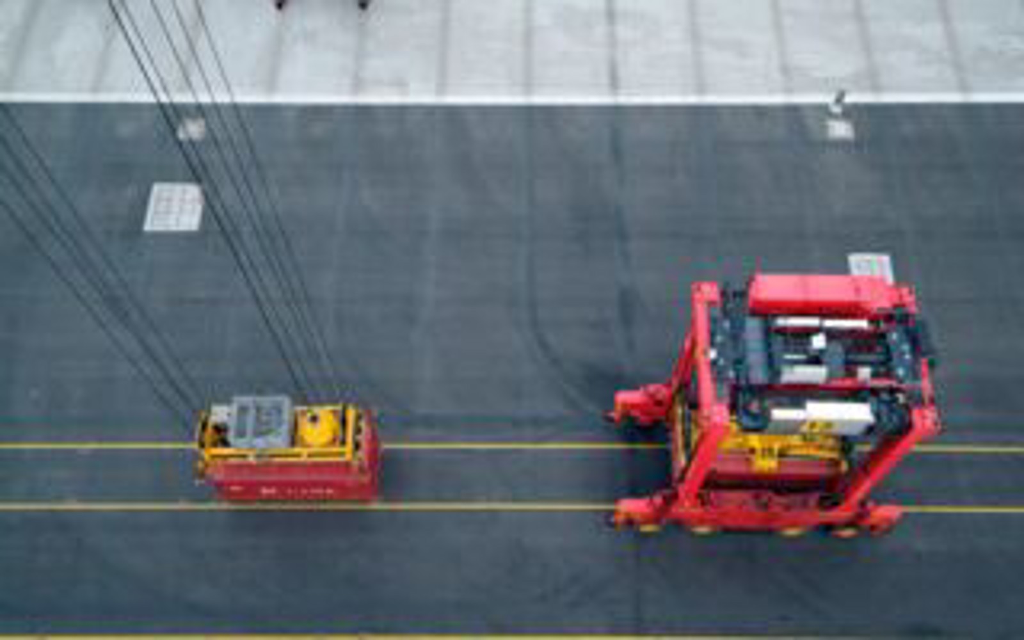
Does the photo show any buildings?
No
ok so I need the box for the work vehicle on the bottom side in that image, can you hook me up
[598,267,952,536]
